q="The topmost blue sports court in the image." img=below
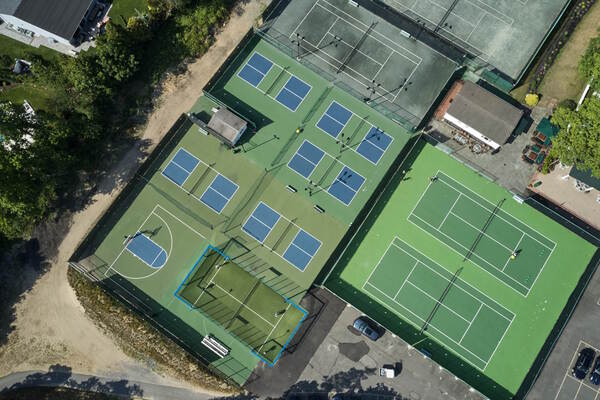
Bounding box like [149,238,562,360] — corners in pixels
[237,52,312,112]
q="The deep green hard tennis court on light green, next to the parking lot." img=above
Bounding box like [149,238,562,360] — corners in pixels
[363,236,516,371]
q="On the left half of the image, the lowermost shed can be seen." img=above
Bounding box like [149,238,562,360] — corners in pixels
[207,108,248,146]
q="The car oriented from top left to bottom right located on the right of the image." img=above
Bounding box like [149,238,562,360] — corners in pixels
[354,315,380,341]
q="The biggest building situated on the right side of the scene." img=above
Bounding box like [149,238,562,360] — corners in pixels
[436,80,522,159]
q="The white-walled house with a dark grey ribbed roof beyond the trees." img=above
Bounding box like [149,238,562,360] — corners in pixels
[0,0,110,49]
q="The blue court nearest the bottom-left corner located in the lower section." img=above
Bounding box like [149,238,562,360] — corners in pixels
[105,205,205,331]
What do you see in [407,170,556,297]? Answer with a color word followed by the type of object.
green tennis court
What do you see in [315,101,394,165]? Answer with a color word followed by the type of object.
blue sports court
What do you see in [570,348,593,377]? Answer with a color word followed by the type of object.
black car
